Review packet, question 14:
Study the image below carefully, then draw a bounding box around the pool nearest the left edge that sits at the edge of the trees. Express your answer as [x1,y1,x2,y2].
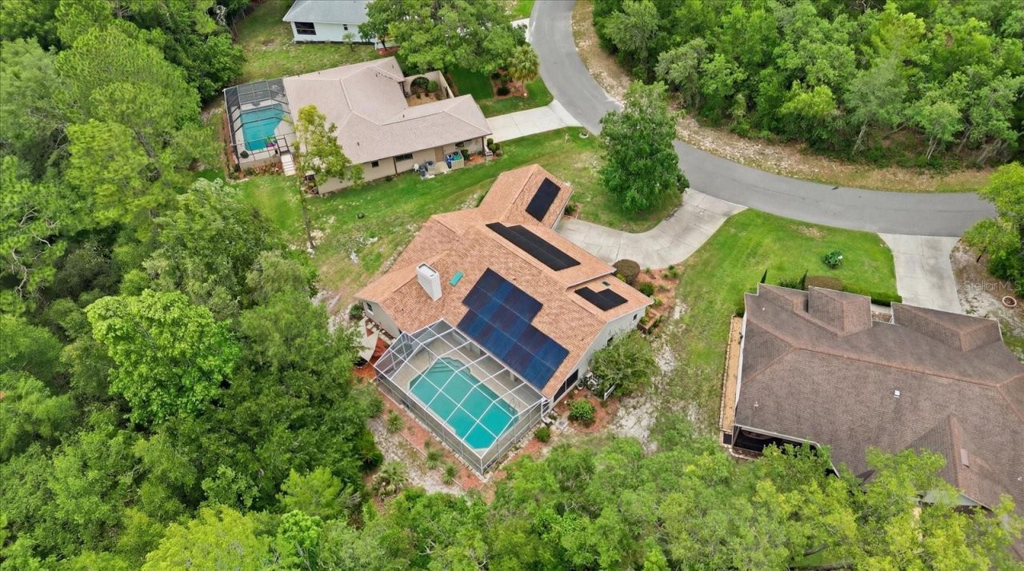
[240,99,286,152]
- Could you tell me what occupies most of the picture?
trees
